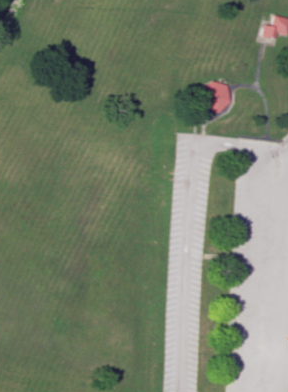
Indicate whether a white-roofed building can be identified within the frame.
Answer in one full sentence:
No, the picture doesn't show any white-roofed building.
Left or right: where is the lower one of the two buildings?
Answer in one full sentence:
The lower one of the two buildings appears in the right half of the scene.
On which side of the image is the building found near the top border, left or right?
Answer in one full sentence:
You can find the building found near the top border on the right side of the picture.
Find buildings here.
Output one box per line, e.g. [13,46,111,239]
[260,14,288,38]
[203,80,232,114]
